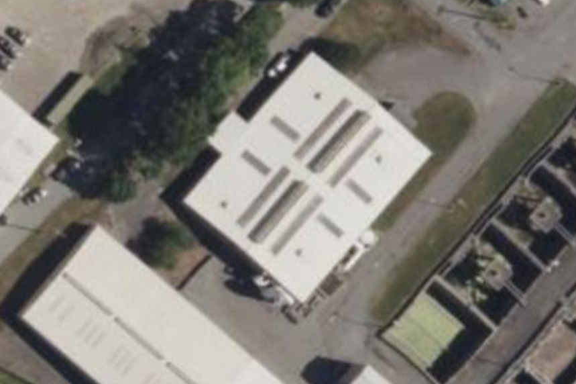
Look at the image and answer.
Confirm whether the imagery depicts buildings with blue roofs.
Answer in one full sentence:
No, the scene contains no building with a blue roof.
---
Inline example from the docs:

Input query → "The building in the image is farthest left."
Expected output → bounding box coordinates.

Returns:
[0,88,59,209]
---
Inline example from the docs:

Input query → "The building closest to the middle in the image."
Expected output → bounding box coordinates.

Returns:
[180,52,431,304]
